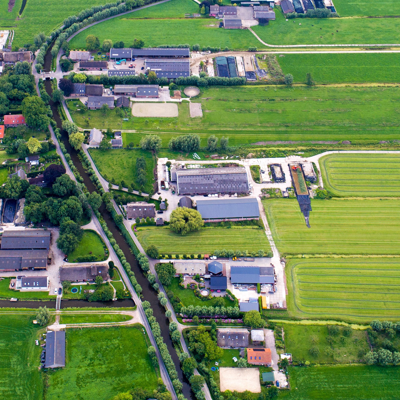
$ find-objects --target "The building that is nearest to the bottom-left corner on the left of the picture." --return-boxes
[46,331,67,370]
